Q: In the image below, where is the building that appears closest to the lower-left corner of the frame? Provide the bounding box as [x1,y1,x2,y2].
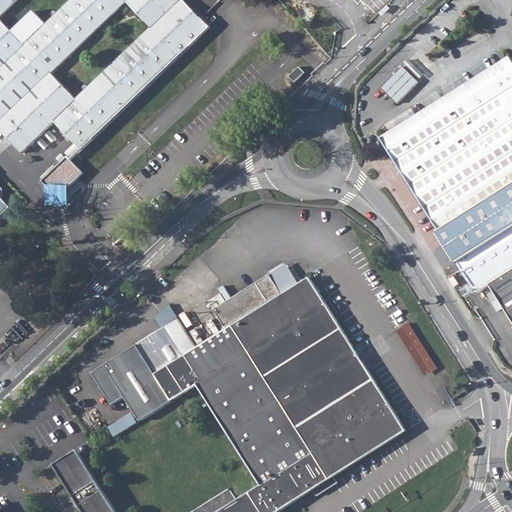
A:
[51,448,116,512]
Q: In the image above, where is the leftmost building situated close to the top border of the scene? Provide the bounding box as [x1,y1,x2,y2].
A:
[0,0,211,158]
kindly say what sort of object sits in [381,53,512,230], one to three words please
building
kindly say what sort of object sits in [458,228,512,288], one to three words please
building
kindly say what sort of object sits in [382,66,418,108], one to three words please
shed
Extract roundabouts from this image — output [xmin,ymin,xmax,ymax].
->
[268,111,348,197]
